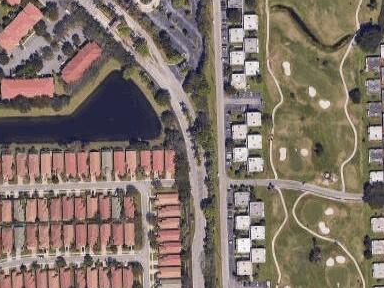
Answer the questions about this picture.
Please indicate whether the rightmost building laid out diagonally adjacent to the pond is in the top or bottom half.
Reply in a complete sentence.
You can find the rightmost building laid out diagonally adjacent to the pond in the top half.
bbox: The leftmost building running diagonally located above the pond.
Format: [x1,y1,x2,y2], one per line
[0,2,44,54]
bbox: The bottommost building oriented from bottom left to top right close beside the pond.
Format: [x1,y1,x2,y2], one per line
[59,40,103,83]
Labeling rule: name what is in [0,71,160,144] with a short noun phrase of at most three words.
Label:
pond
